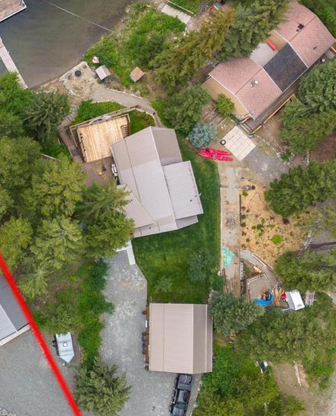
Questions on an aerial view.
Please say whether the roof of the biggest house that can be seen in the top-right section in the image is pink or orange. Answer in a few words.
pink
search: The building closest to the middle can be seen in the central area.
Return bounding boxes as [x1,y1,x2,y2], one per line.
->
[77,114,204,238]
